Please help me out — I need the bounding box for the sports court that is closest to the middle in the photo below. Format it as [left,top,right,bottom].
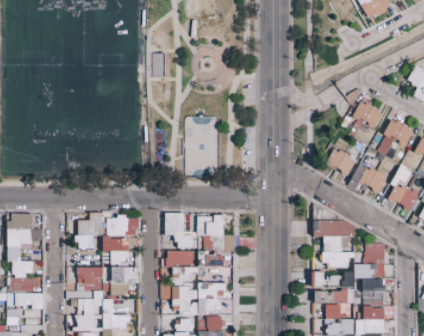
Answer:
[184,117,218,176]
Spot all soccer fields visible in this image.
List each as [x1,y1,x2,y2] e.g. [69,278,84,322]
[1,0,141,173]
